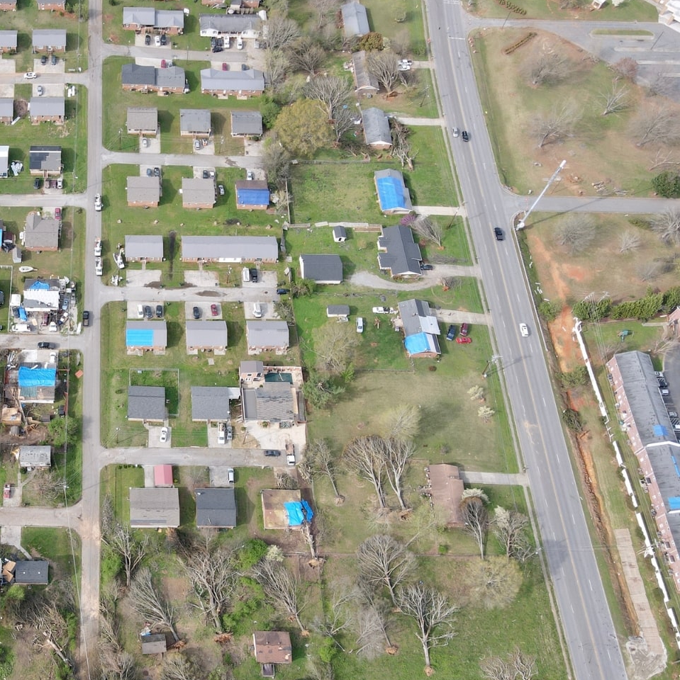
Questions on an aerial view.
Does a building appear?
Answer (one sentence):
Yes, a building appears in the view.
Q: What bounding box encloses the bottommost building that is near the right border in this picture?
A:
[601,352,680,645]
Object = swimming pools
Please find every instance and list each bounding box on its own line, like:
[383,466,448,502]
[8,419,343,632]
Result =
[267,371,295,383]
